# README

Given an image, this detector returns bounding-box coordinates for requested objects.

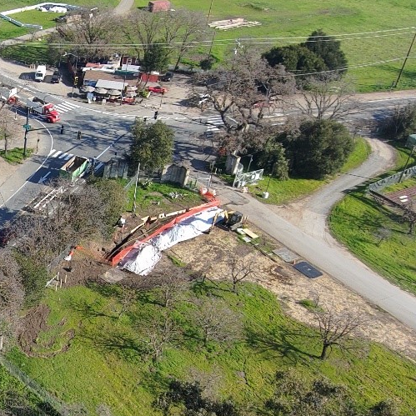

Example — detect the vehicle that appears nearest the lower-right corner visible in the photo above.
[216,206,254,230]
